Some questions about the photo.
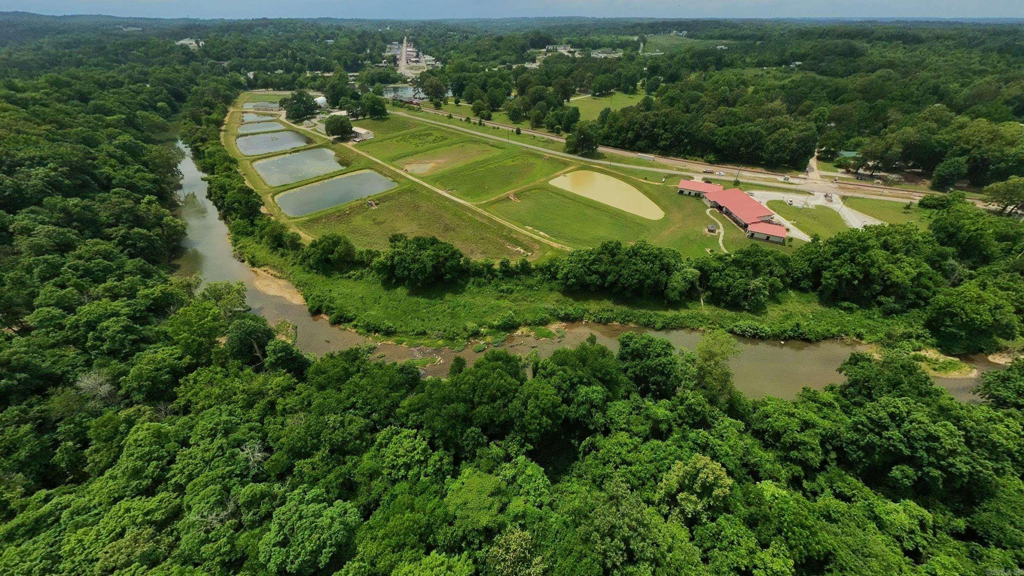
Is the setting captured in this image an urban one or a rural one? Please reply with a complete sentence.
It looks rural.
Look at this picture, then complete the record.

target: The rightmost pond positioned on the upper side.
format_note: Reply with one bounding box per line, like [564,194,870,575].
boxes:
[548,170,666,220]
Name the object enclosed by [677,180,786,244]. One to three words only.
building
